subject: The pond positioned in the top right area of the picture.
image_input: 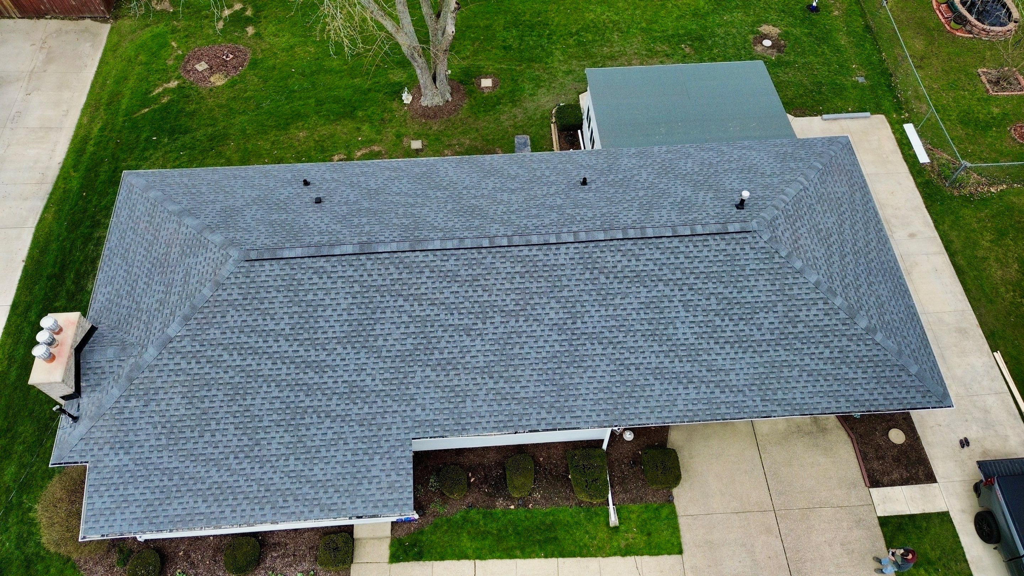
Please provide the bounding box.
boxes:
[945,0,1020,41]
